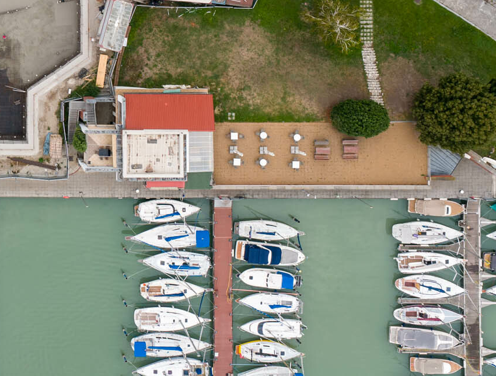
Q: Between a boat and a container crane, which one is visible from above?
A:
boat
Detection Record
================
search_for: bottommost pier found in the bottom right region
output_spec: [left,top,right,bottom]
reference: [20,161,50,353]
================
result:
[397,194,496,376]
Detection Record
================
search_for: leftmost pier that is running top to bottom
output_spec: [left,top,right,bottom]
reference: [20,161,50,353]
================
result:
[203,194,239,376]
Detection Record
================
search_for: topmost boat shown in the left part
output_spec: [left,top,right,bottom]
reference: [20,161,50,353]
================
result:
[132,200,203,229]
